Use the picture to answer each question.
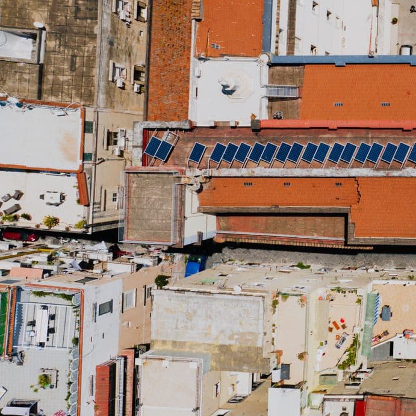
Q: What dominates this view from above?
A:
buildings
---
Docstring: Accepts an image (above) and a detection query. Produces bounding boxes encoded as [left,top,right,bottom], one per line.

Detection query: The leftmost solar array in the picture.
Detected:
[141,131,179,167]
